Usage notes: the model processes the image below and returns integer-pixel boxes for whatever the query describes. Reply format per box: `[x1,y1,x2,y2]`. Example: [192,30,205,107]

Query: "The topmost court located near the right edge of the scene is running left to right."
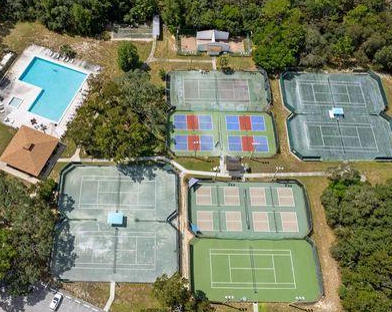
[279,74,384,115]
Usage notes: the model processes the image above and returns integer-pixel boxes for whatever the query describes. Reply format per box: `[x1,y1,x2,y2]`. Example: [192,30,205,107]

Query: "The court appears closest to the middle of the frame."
[174,135,214,151]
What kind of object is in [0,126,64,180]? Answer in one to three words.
building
